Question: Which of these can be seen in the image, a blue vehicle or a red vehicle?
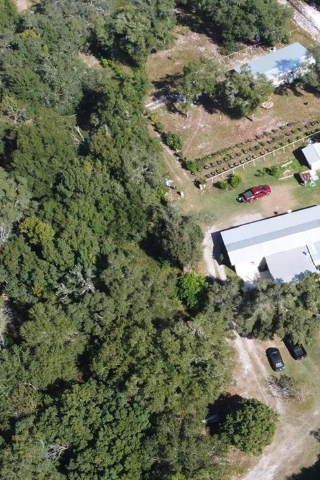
red vehicle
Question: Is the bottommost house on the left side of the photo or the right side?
right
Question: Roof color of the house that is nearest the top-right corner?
white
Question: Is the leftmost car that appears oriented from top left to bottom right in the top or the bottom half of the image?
bottom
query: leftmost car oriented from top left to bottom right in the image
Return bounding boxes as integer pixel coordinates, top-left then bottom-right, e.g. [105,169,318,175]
[265,348,287,374]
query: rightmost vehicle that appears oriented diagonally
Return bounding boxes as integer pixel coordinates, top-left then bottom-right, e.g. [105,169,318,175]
[283,333,311,363]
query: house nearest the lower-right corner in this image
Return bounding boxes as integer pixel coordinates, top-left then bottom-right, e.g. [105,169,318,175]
[221,206,320,306]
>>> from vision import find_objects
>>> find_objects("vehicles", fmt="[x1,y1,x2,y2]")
[265,348,287,374]
[283,333,311,363]
[238,187,271,204]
